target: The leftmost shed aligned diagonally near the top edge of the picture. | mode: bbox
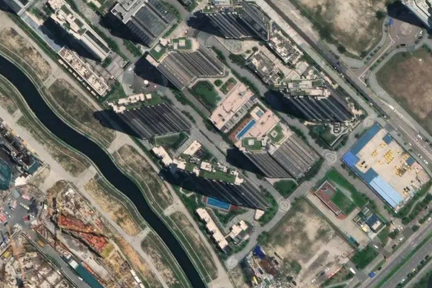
[18,12,64,56]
